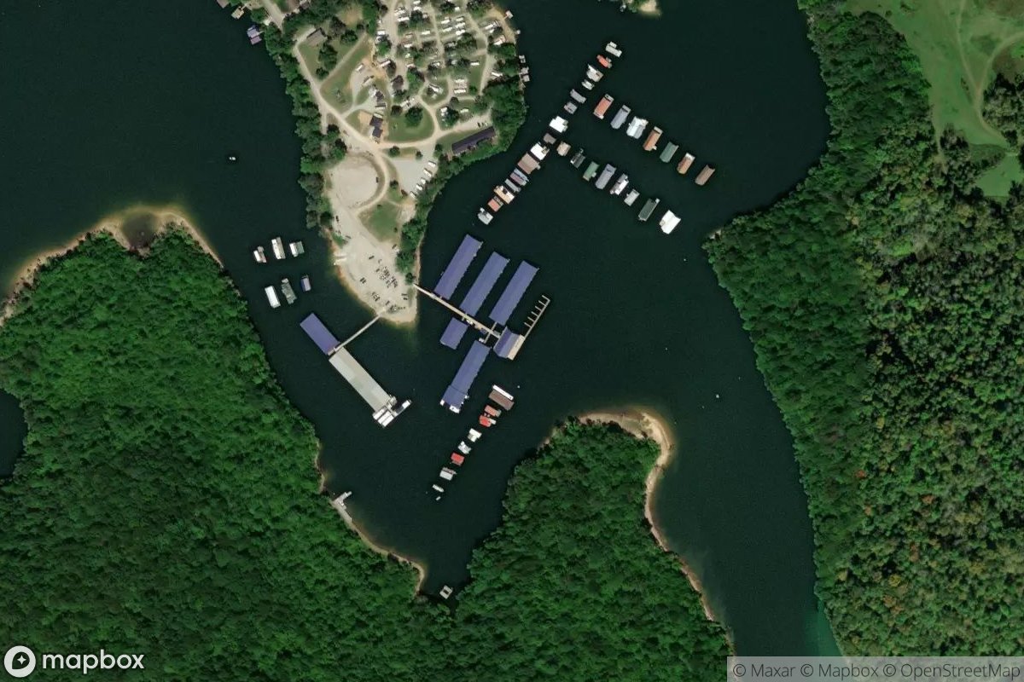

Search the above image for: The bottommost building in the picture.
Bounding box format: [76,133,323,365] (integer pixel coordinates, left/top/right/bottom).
[493,327,525,361]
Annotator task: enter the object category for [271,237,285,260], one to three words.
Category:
boat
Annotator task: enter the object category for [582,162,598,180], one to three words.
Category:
boat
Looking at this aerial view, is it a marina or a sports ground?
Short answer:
marina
